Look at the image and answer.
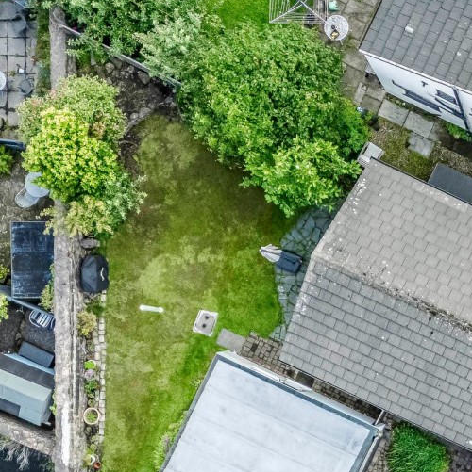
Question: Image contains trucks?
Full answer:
No, no truck is visible in the scene.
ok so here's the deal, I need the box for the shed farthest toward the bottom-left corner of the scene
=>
[0,352,56,426]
